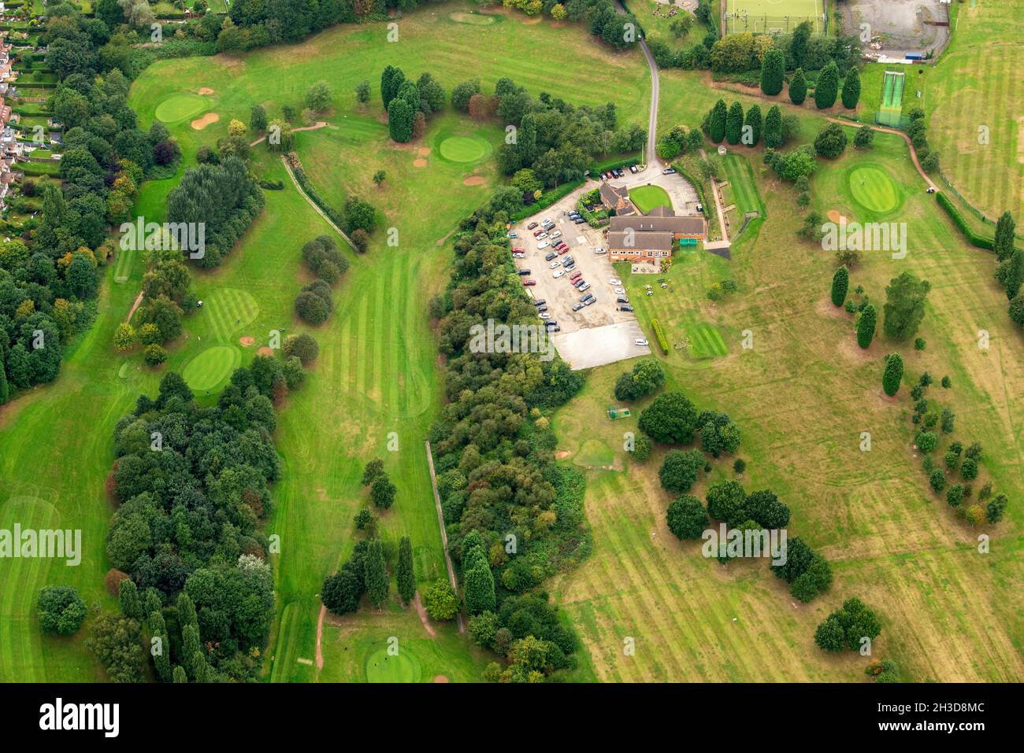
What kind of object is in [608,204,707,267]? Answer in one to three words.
building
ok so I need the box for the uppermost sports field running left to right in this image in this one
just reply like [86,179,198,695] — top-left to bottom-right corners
[721,0,821,33]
